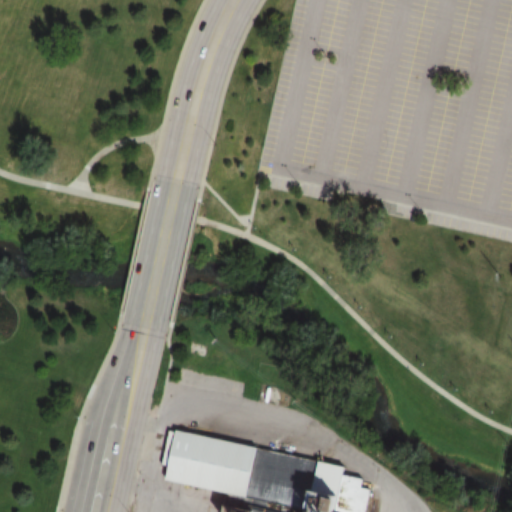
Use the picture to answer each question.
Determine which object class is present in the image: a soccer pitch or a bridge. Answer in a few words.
bridge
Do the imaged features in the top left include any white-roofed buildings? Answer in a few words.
No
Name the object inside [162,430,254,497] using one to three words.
building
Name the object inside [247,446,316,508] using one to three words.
building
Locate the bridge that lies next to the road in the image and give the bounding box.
[118,176,206,338]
